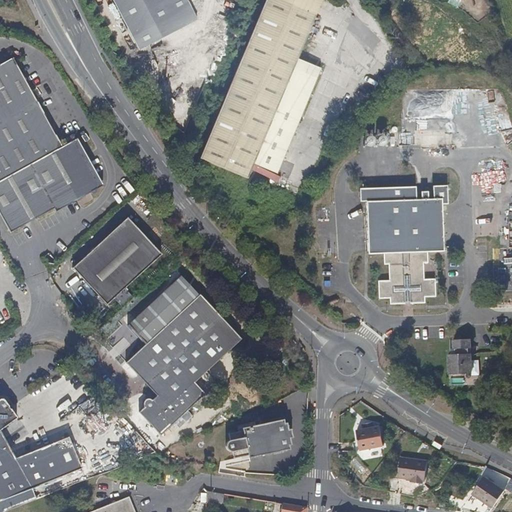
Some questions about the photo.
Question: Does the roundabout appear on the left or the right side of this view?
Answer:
right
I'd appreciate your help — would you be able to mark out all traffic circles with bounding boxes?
[312,326,386,413]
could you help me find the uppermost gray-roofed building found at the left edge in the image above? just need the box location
[0,58,62,180]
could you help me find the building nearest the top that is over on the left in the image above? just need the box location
[114,0,197,49]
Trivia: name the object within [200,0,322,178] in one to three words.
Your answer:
warehouse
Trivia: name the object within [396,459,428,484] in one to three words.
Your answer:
house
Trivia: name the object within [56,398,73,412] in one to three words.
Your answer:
vehicle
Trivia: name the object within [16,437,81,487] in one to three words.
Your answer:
building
